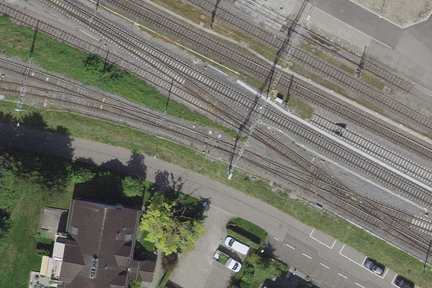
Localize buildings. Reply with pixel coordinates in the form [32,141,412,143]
[38,208,68,236]
[41,201,150,288]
